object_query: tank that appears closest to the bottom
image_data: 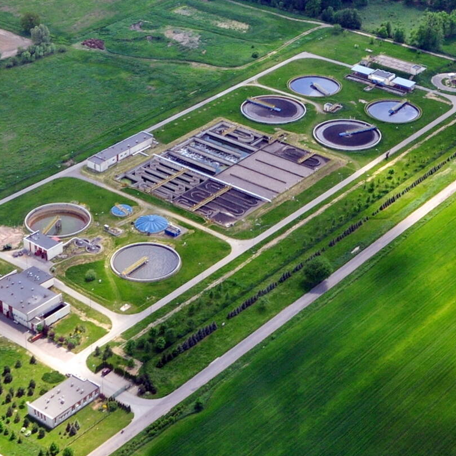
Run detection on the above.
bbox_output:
[110,243,181,284]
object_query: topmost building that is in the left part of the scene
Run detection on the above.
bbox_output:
[88,130,155,172]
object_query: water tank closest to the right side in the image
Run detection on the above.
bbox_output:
[365,100,423,125]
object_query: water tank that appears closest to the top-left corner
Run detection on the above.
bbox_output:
[23,203,92,240]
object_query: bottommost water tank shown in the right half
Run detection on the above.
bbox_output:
[312,119,382,153]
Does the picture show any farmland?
Yes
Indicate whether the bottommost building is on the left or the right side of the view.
left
